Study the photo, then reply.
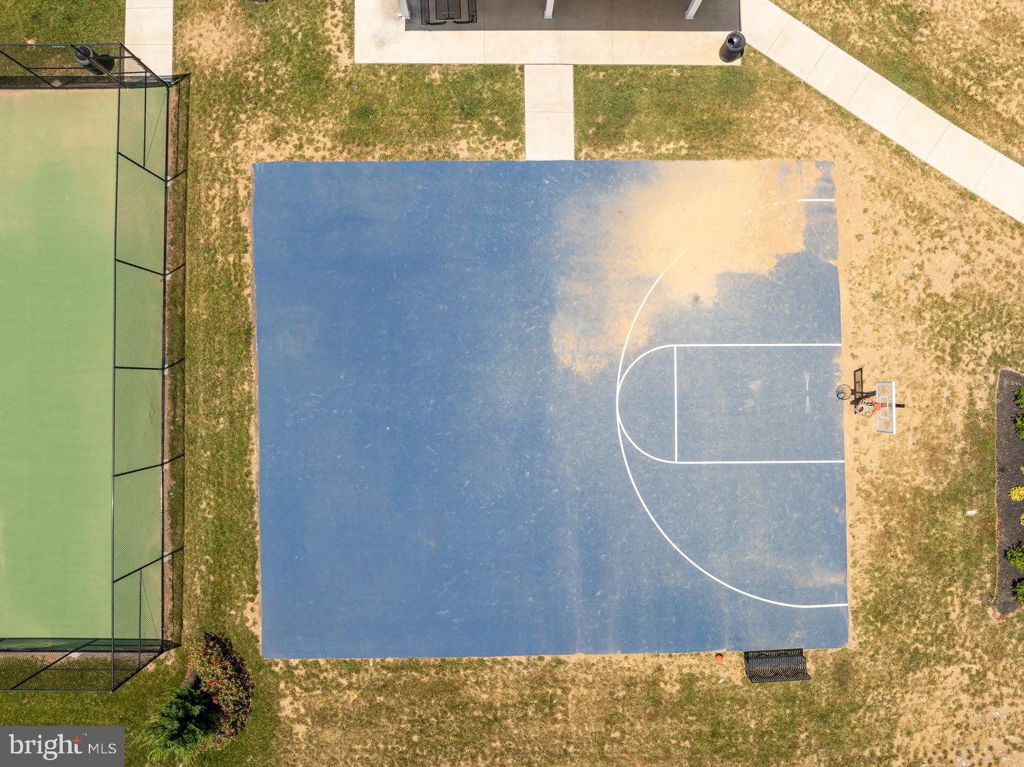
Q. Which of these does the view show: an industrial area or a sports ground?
sports ground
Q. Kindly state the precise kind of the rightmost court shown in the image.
basketball court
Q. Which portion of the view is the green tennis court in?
left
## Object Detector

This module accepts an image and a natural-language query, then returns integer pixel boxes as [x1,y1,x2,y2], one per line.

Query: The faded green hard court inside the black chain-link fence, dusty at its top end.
[0,88,167,648]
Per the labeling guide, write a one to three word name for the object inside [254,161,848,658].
basketball court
